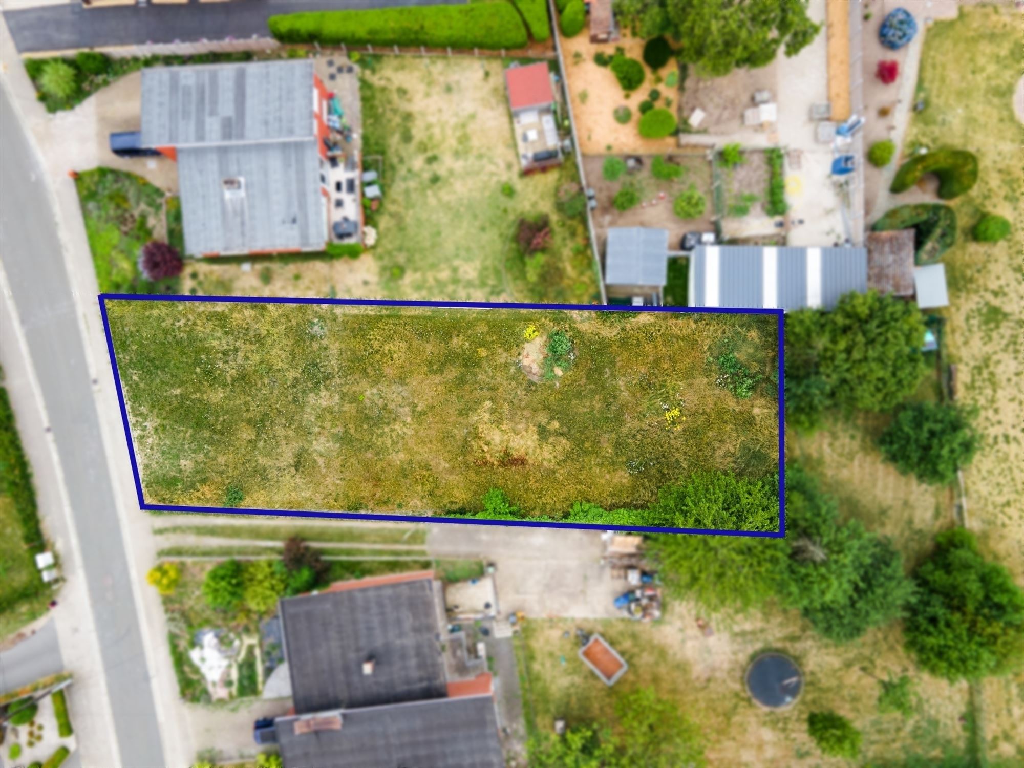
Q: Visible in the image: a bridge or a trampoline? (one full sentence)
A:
It is a trampoline that can be seen here.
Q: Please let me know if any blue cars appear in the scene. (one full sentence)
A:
Yes, the frame does contain a blue car.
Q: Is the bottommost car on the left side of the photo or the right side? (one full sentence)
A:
The bottommost car appears in the left half of the scene.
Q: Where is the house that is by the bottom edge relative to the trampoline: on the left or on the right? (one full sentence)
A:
Compared with the trampoline, the house that is by the bottom edge is located further to the left.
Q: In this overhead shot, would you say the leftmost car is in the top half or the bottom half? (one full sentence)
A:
Seen from above, the leftmost car lies in the top half of the view.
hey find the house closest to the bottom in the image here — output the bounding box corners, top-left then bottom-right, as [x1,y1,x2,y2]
[275,571,500,768]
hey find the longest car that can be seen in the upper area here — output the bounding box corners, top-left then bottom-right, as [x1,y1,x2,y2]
[110,130,167,160]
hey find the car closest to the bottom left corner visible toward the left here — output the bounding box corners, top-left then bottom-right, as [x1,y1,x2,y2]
[257,716,278,748]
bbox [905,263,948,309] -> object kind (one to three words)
shed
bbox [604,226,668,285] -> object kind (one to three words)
shed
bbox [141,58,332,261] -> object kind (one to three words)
house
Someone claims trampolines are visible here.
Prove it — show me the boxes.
[744,651,802,709]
